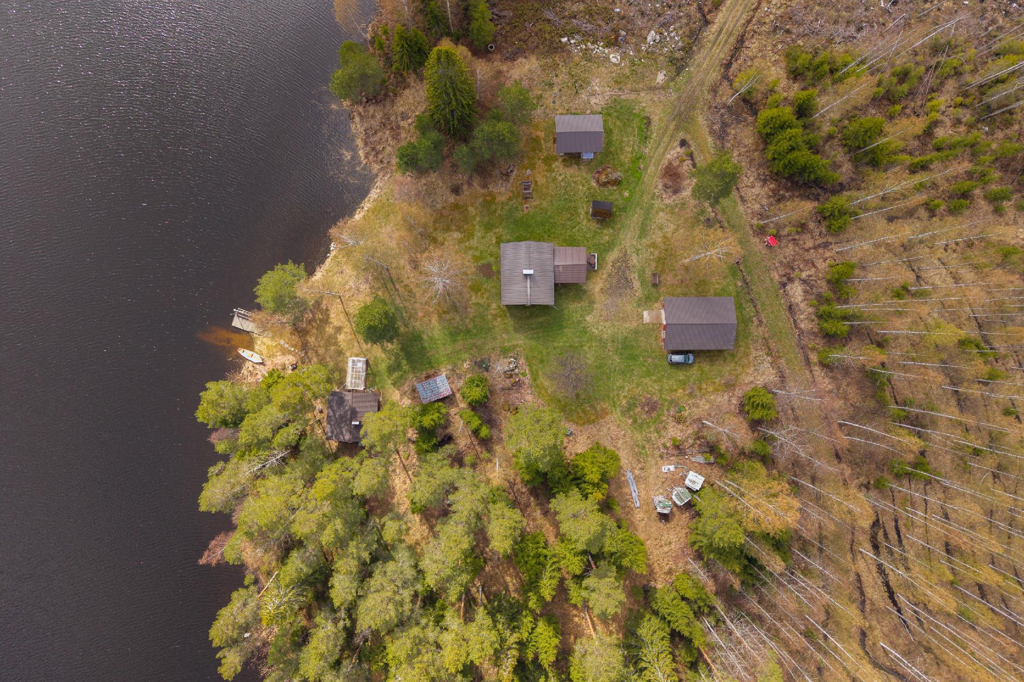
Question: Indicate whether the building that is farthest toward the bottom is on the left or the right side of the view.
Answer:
left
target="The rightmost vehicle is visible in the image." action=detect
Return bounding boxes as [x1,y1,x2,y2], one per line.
[667,352,694,366]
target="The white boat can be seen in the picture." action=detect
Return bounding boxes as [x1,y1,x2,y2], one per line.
[237,349,263,364]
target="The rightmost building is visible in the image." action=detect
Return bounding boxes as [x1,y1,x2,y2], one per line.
[661,297,738,350]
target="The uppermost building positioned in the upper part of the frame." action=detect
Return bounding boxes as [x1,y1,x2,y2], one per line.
[555,115,604,153]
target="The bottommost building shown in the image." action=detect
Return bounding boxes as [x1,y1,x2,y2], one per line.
[327,392,379,444]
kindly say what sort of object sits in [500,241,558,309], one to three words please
house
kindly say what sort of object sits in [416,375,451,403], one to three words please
shed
